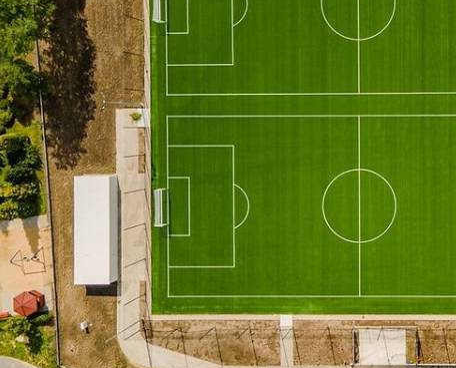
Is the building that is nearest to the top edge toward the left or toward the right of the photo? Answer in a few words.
left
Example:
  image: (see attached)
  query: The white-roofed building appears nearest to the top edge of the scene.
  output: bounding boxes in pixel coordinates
[74,174,118,285]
